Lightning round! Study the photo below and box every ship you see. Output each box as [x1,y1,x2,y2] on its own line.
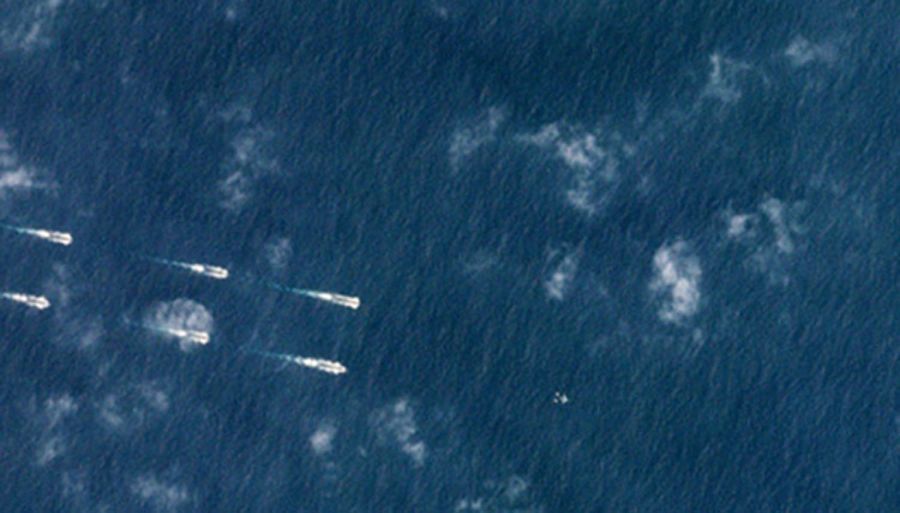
[306,360,344,372]
[13,295,47,306]
[318,293,357,304]
[192,265,226,275]
[36,230,69,241]
[171,330,207,340]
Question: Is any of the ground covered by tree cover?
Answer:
No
